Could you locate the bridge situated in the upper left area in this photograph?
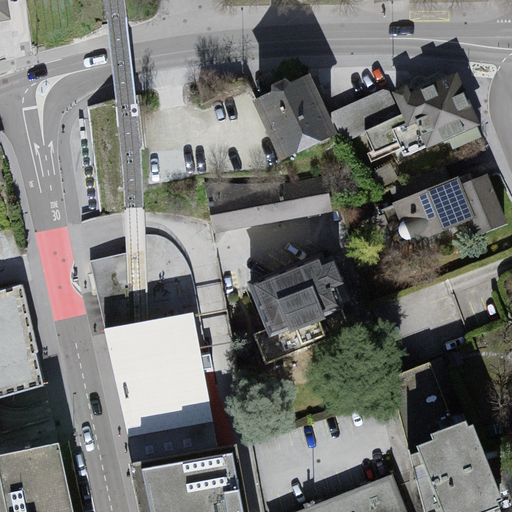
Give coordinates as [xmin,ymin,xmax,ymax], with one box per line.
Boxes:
[104,0,144,208]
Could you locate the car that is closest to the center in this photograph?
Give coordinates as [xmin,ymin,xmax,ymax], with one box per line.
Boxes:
[246,260,267,278]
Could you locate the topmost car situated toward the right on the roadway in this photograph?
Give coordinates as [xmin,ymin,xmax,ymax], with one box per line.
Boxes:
[390,24,414,36]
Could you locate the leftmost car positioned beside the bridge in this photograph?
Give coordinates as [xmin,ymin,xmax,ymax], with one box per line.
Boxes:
[84,54,108,67]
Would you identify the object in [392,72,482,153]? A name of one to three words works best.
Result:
house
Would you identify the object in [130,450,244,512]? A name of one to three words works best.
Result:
building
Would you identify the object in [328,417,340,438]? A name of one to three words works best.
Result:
vehicle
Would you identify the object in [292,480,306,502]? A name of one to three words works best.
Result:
car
